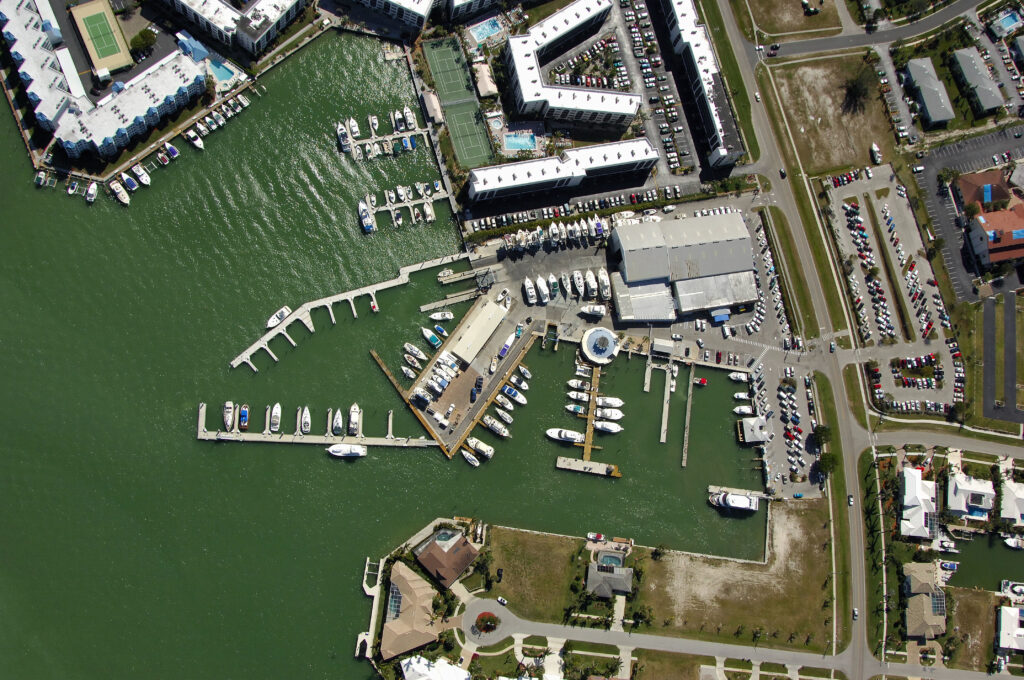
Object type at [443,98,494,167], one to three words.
tennis court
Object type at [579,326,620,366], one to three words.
building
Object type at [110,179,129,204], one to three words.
boat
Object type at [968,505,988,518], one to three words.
swimming pool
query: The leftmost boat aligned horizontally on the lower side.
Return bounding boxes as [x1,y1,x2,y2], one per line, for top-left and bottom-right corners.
[327,443,368,456]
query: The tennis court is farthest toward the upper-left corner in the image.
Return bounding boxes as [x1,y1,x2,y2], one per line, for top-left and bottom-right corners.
[70,0,135,77]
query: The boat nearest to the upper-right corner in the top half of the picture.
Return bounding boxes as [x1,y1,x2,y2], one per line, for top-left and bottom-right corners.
[868,142,882,166]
